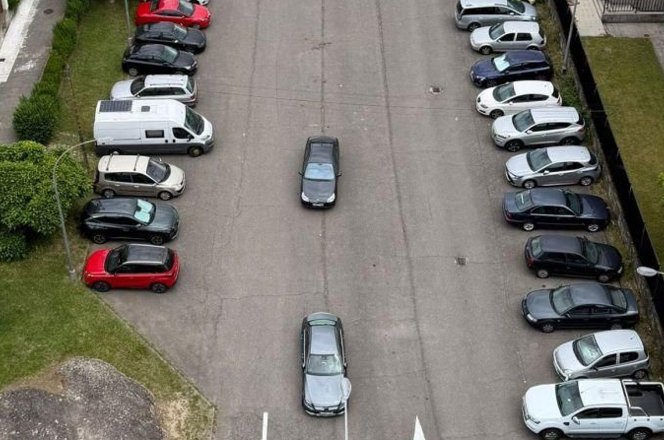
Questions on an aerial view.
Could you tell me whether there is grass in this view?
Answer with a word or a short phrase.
Yes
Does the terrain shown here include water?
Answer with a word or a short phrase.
No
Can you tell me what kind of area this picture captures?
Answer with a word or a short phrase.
parking lot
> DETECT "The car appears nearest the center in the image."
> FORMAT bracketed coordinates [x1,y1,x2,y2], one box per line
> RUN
[296,129,342,203]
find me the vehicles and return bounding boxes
[133,18,208,49]
[500,186,614,232]
[520,375,664,440]
[453,0,540,30]
[76,196,180,245]
[522,232,627,281]
[134,0,212,25]
[120,38,199,74]
[296,129,342,203]
[90,151,187,200]
[90,94,215,156]
[81,241,181,292]
[296,308,351,411]
[518,278,646,331]
[502,144,606,188]
[490,107,591,152]
[475,79,567,118]
[109,67,199,103]
[550,328,657,381]
[469,18,551,53]
[469,50,558,85]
